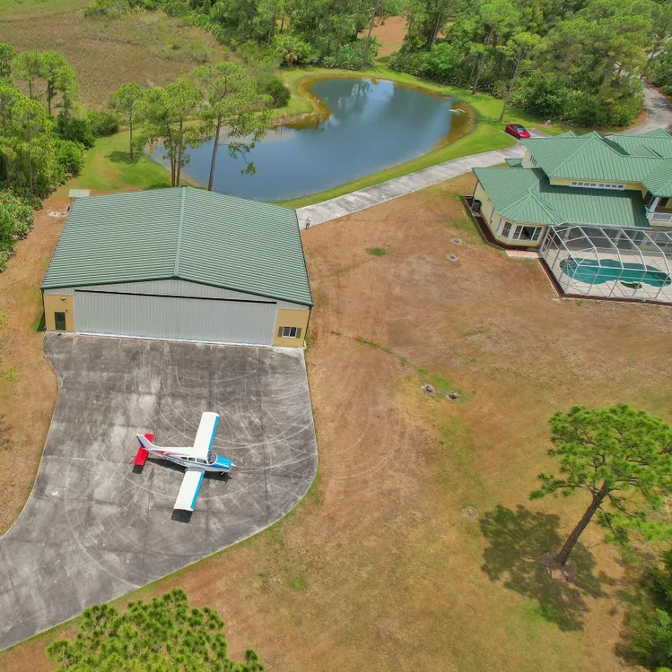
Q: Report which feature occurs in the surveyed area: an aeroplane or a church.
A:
aeroplane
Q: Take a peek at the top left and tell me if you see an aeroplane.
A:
No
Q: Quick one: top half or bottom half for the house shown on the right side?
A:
top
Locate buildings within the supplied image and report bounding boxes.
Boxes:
[41,185,314,349]
[468,116,672,254]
